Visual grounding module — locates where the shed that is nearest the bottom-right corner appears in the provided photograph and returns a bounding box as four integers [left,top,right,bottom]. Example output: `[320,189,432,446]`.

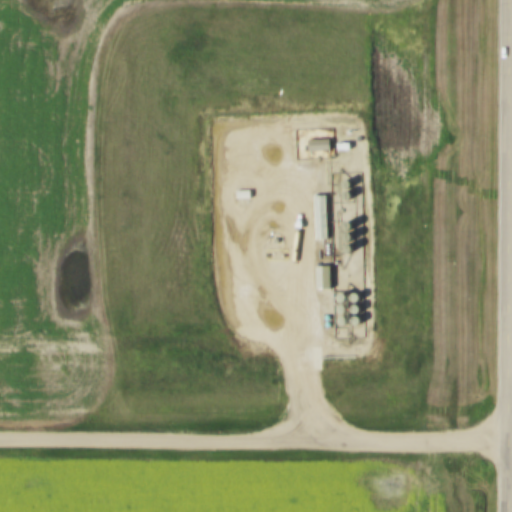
[316,266,330,290]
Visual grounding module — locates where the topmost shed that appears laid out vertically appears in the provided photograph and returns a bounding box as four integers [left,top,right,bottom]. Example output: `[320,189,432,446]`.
[314,194,328,240]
